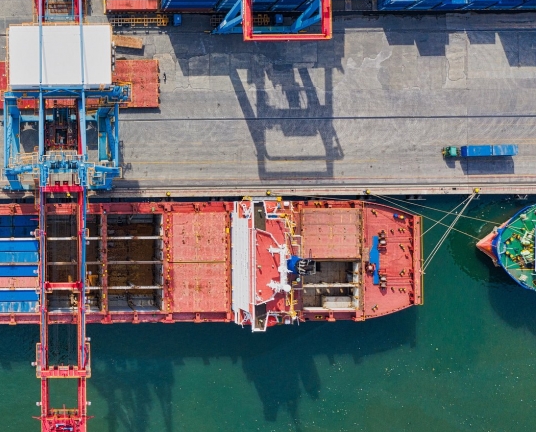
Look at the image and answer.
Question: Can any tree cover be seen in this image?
No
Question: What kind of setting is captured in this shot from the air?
port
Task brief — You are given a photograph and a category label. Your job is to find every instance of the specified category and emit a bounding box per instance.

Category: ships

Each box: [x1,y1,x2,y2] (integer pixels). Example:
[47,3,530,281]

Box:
[478,205,536,288]
[0,193,424,328]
